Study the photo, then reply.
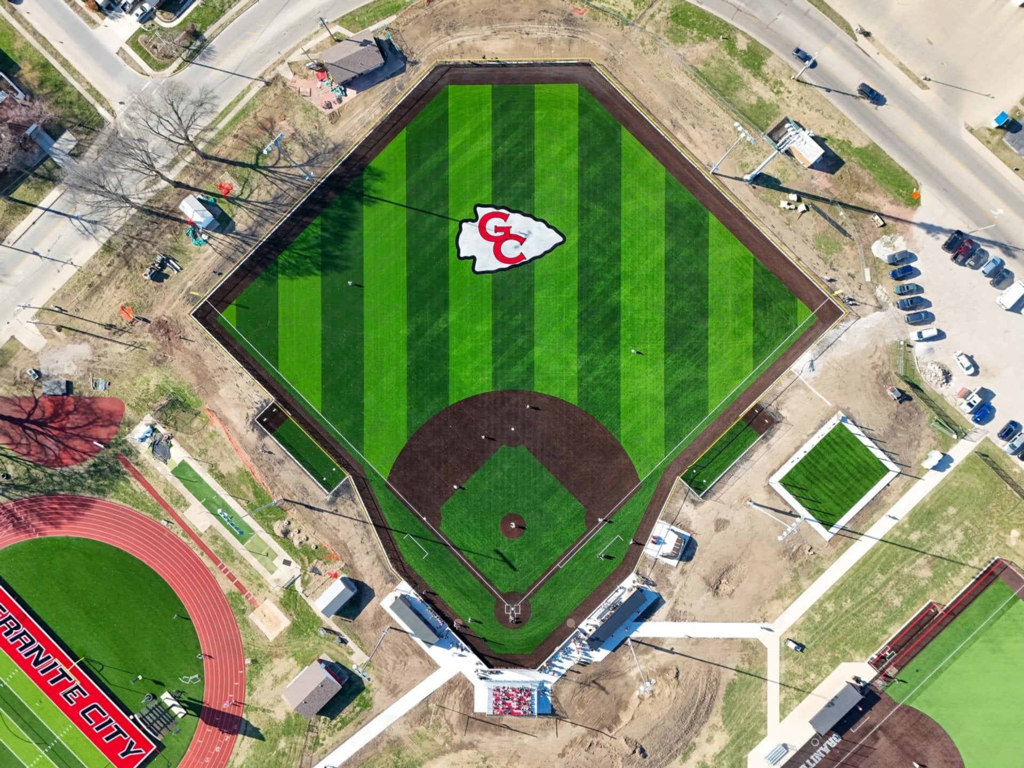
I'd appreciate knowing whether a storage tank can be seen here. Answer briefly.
No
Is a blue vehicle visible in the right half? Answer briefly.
Yes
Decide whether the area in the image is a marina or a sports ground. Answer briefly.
sports ground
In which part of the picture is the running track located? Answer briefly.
bottom left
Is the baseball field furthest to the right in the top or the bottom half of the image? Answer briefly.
bottom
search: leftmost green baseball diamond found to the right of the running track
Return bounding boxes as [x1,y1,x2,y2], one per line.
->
[192,64,841,669]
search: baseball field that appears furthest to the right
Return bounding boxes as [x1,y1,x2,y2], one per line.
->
[785,557,1024,768]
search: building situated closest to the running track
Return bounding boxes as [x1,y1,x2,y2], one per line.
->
[284,652,343,719]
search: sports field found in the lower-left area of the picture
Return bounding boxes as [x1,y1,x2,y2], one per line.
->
[0,533,204,768]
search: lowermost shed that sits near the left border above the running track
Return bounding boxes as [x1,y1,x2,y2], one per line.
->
[43,379,70,395]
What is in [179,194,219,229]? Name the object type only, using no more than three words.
shed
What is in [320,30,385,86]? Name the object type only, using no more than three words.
building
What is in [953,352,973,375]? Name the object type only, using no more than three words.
car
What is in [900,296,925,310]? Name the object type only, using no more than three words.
vehicle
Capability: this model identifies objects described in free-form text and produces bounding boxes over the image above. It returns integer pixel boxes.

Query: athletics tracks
[0,493,243,768]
